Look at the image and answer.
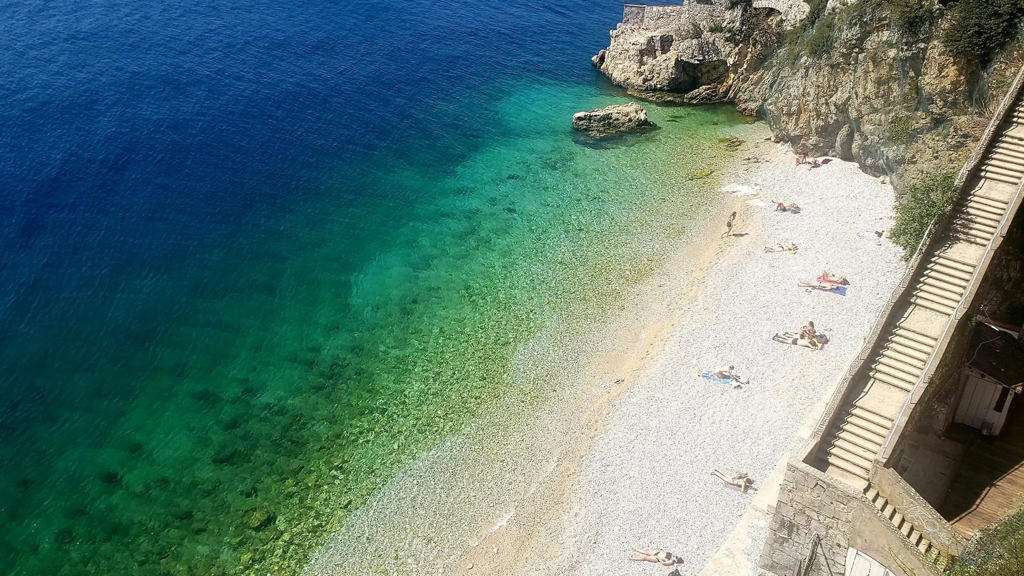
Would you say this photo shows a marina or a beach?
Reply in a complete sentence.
This looks like a beach.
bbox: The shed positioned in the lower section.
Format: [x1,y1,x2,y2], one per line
[955,296,1024,442]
